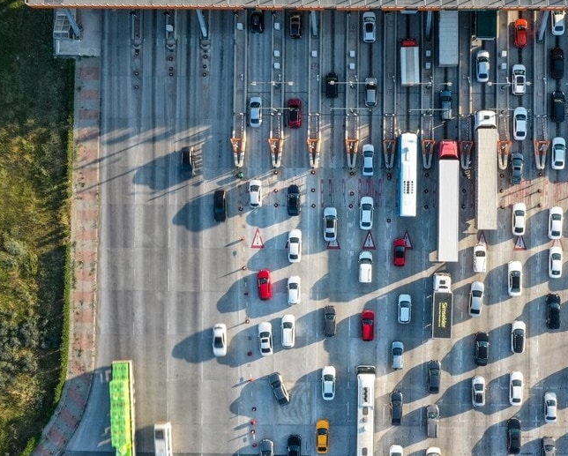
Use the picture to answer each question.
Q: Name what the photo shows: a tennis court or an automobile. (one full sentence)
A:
Looking from above, you can make out an automobile.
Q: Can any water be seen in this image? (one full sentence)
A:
No, the scene doesn't show any water.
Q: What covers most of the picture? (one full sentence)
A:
For the most part, this view shows paved ground.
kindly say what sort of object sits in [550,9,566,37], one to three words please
car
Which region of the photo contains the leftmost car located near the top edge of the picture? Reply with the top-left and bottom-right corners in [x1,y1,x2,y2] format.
[249,9,266,34]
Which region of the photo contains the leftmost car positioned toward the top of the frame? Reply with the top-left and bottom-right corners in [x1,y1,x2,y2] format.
[180,146,196,179]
